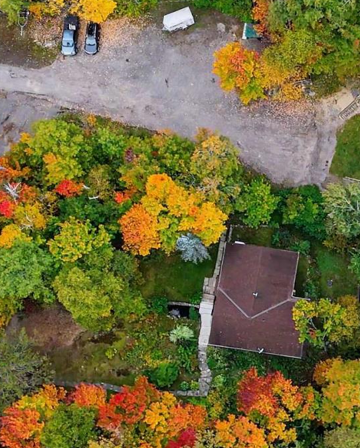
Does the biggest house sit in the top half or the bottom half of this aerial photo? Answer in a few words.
bottom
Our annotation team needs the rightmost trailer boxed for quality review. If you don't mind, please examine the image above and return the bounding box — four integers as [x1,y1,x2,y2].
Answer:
[161,5,197,34]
